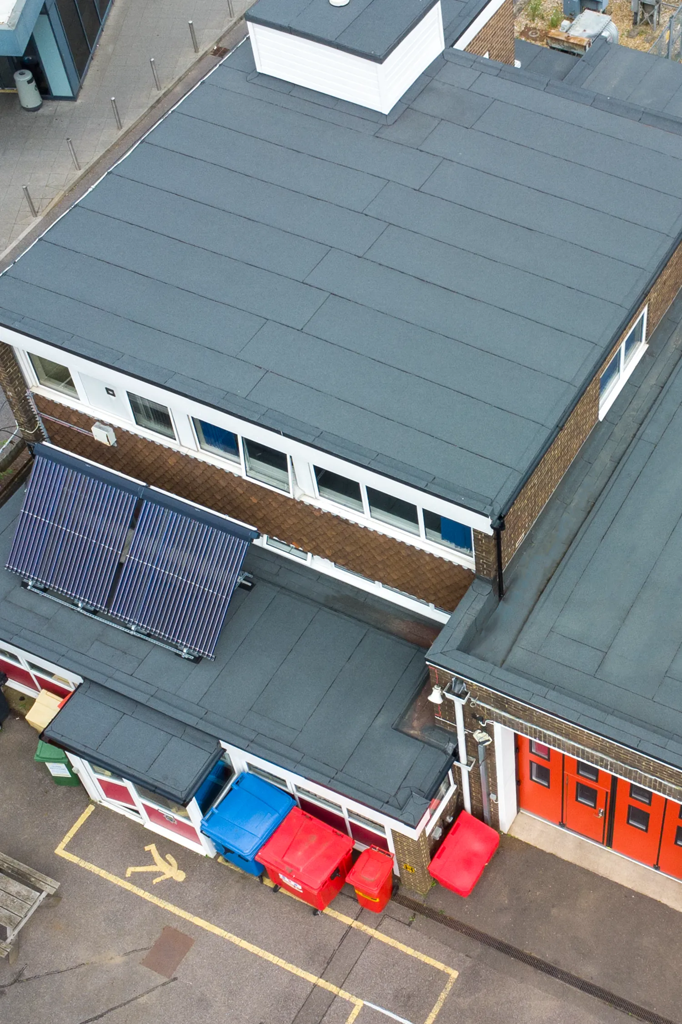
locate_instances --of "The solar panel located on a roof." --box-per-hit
[7,435,266,671]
